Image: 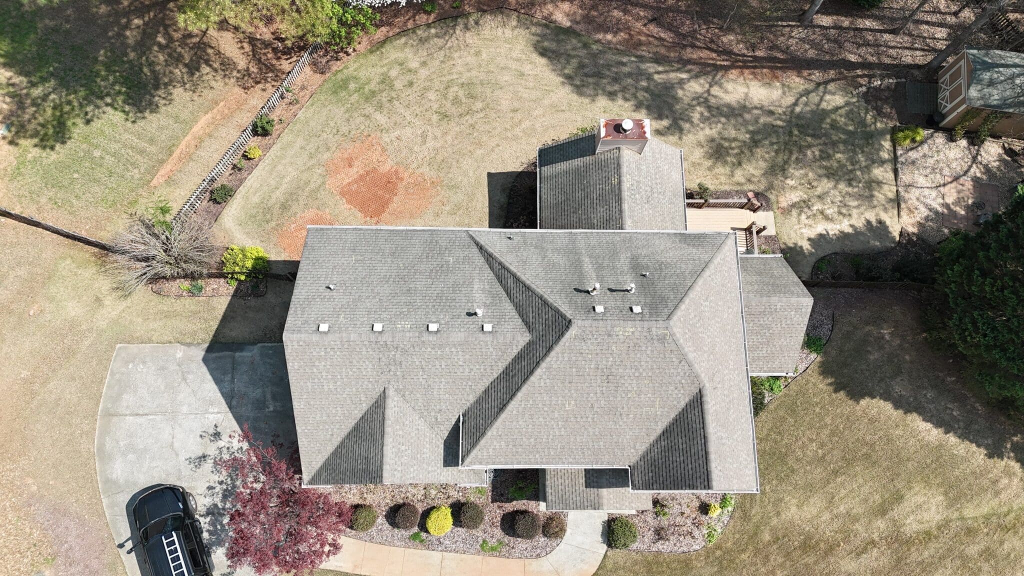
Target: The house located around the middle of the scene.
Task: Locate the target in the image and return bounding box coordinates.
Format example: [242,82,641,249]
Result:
[281,117,813,514]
